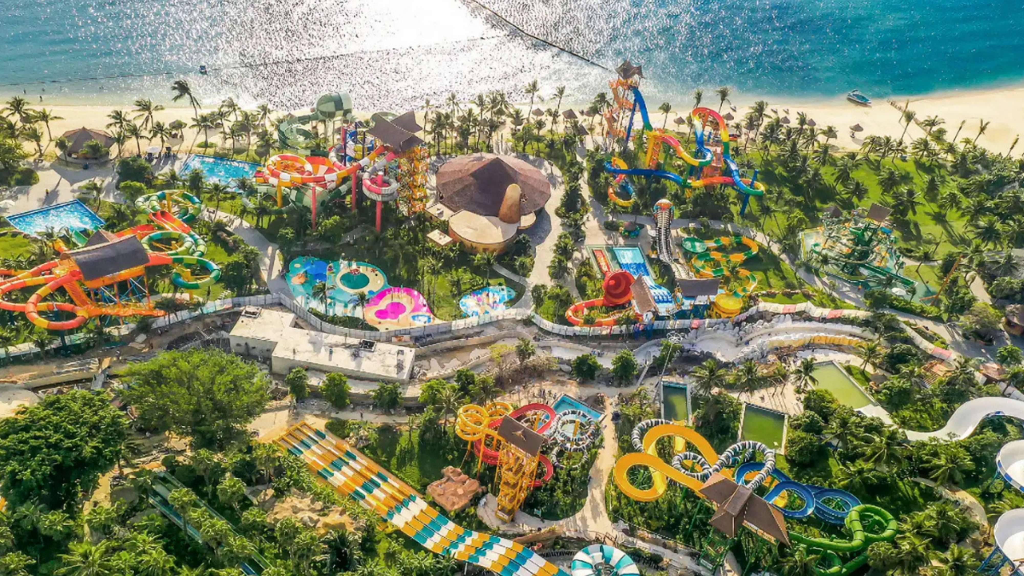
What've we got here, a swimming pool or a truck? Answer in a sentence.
Of the two, only a swimming pool appears.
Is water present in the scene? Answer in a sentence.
Yes, there's water in this view.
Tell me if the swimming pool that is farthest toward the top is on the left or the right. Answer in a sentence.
You can find the swimming pool that is farthest toward the top on the left side of the picture.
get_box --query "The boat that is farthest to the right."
[845,90,873,105]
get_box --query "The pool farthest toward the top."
[176,152,265,194]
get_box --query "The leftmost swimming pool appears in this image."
[3,196,109,239]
